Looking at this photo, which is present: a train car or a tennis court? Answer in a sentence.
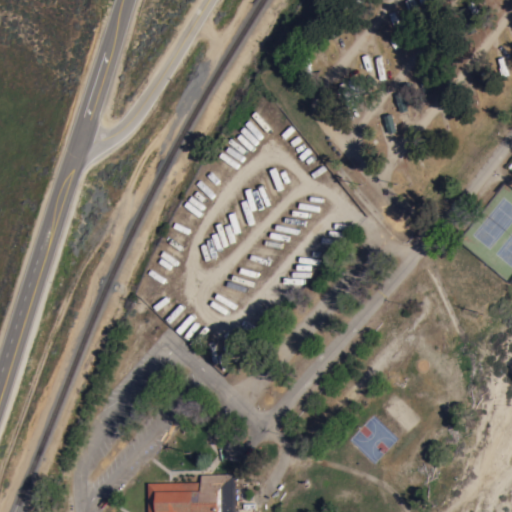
Of the two, only a tennis court appears.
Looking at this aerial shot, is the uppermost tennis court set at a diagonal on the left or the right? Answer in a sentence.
It is on the right.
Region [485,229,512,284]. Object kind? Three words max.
tennis court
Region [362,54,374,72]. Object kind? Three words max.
vehicle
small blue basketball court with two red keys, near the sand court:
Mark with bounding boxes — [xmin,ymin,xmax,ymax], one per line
[353,416,398,464]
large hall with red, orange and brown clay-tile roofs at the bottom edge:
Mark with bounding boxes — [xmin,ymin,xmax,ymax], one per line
[147,476,236,512]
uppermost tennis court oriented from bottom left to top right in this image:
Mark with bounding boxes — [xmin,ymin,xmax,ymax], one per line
[459,184,512,262]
